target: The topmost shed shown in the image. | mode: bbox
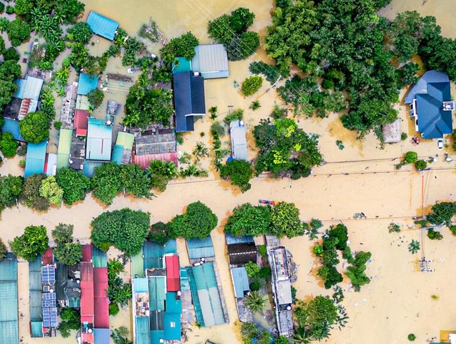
[86,11,118,42]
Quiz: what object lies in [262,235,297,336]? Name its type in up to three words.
house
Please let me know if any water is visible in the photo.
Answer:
Yes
